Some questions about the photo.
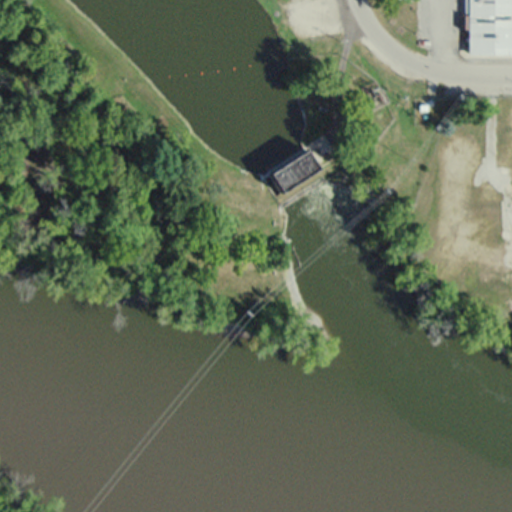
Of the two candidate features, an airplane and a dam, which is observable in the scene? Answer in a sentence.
Visible in the photo is a dam.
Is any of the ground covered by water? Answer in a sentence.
Yes, the picture does contain water.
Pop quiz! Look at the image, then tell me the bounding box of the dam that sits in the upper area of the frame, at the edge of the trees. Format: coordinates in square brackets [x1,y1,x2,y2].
[259,136,336,208]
